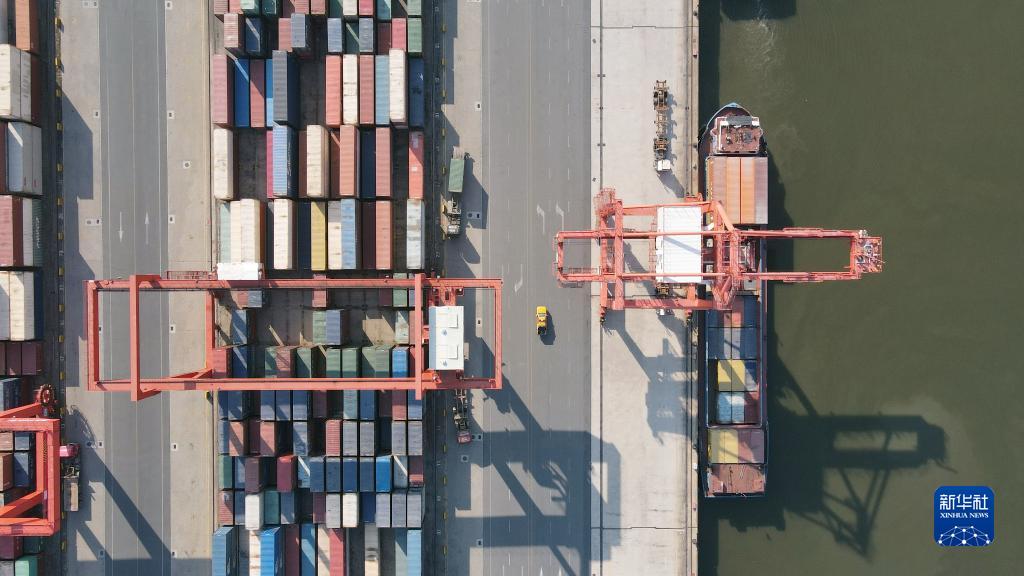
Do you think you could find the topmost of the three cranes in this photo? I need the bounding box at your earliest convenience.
[553,190,885,322]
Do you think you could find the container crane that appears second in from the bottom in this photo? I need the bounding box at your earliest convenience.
[86,262,502,400]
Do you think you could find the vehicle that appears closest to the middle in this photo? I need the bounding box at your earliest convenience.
[536,306,548,334]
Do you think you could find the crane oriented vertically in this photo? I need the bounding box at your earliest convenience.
[0,386,59,535]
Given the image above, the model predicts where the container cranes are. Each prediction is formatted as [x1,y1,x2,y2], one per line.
[0,386,59,535]
[553,190,885,322]
[86,262,502,400]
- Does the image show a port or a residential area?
port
